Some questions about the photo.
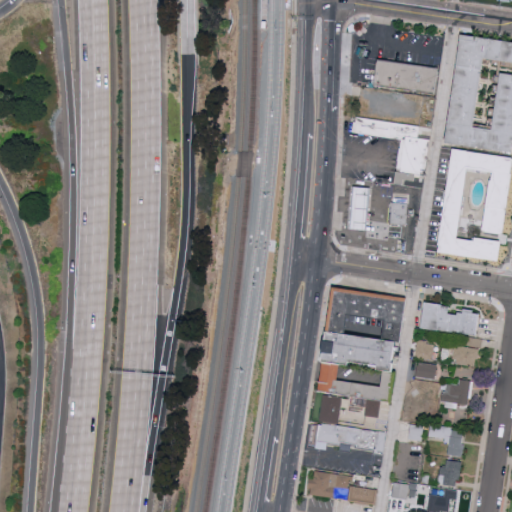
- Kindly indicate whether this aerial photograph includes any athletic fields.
No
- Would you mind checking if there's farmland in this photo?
No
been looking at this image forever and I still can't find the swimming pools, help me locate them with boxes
[470,179,486,208]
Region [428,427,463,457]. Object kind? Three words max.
house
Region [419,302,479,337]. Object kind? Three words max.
house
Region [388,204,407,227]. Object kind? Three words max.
building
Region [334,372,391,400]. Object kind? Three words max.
building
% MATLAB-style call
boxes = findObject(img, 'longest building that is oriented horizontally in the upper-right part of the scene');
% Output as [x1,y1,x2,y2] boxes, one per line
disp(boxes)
[374,60,438,97]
